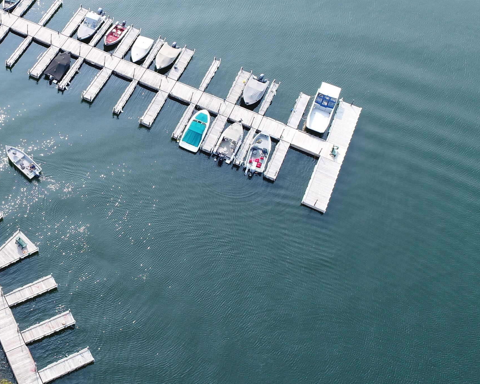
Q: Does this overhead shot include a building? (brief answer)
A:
No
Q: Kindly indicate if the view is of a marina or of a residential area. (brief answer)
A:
marina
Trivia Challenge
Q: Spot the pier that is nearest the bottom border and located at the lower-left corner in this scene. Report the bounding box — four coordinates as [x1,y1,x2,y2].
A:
[39,345,93,384]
